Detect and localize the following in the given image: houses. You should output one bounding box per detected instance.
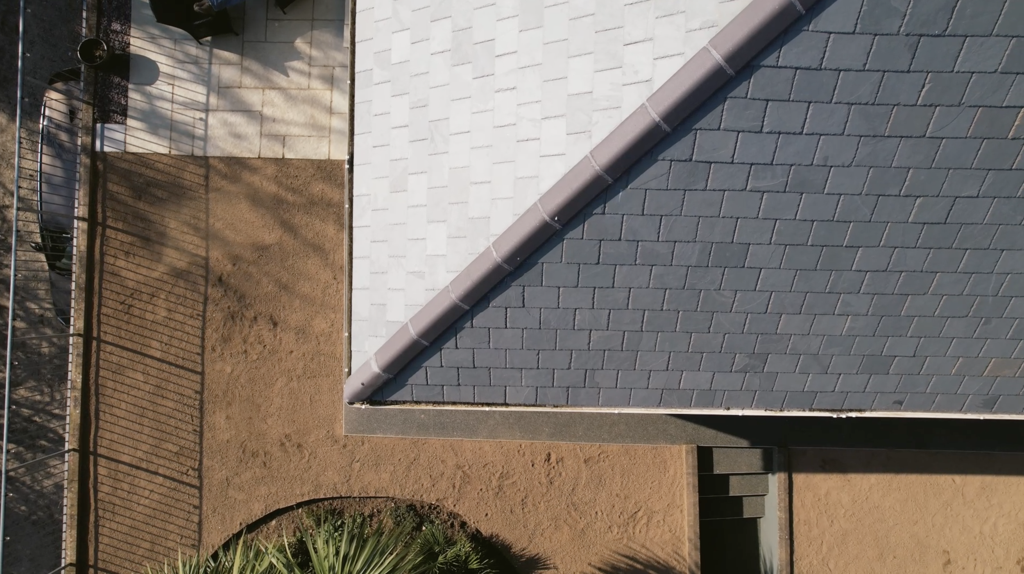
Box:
[338,0,1024,421]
